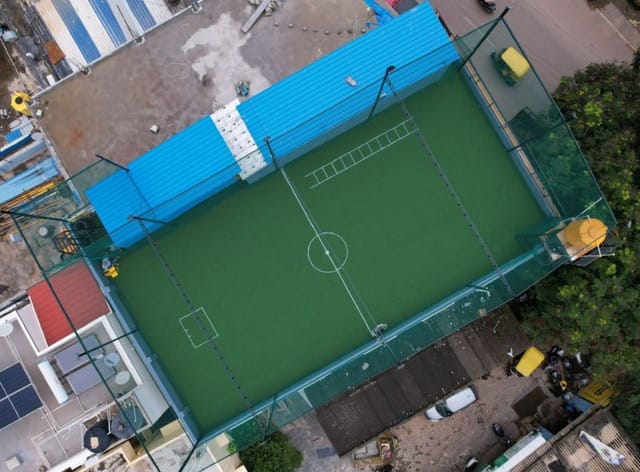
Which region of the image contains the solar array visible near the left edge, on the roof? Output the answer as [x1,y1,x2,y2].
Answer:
[0,343,47,428]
